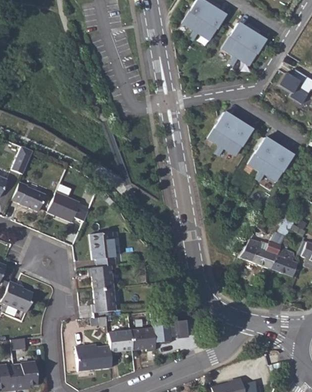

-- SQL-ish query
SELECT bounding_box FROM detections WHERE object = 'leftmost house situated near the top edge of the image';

[180,0,228,42]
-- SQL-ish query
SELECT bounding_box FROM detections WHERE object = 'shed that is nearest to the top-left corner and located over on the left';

[11,146,34,174]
